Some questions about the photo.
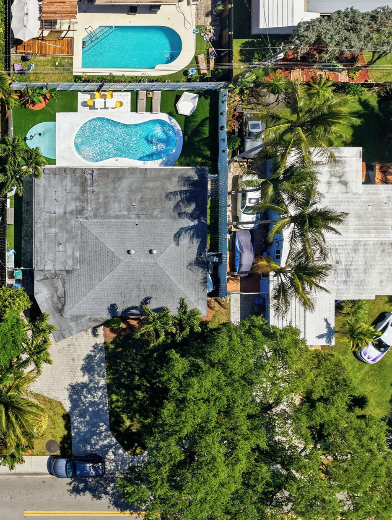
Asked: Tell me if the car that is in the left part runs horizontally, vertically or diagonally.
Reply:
horizontally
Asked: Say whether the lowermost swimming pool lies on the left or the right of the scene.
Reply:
left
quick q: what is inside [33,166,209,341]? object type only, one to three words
house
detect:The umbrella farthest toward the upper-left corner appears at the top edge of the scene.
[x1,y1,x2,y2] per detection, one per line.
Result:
[19,0,45,29]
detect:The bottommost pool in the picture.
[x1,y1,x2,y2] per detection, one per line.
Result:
[73,115,178,163]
